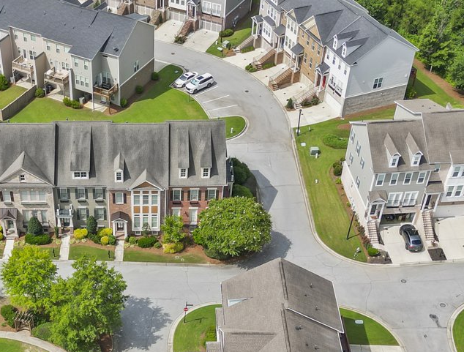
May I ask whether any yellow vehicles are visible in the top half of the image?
No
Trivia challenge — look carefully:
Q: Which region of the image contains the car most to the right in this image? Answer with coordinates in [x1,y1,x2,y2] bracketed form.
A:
[401,221,425,247]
